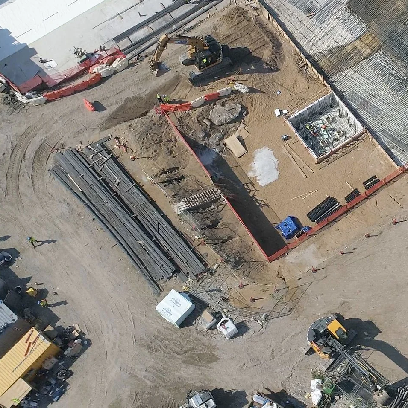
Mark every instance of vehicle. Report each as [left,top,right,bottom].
[302,310,397,408]
[149,26,233,79]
